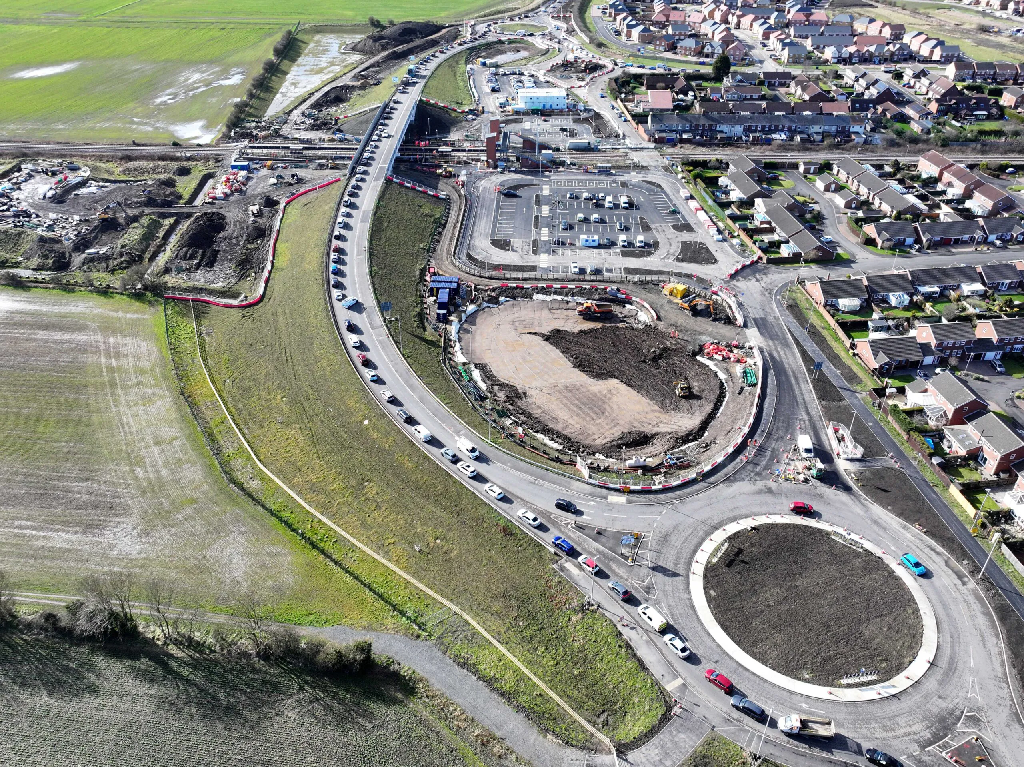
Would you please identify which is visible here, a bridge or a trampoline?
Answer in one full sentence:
This aerial view contains a bridge.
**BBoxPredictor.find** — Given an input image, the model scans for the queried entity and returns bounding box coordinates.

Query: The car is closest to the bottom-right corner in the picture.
[865,742,909,767]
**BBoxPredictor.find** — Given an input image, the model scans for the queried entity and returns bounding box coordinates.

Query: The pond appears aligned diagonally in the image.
[284,34,358,96]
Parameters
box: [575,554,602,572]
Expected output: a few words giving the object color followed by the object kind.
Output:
white car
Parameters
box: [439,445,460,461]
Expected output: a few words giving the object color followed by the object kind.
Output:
white car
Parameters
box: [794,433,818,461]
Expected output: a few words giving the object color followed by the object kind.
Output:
white vehicle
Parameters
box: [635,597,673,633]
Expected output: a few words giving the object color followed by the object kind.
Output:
white van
